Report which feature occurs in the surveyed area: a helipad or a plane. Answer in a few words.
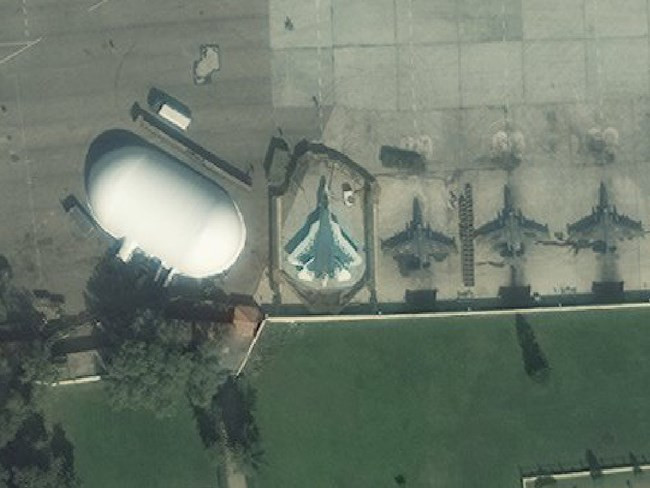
plane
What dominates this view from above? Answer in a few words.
paved ground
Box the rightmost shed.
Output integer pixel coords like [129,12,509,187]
[234,305,262,339]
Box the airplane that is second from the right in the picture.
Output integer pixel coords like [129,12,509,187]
[477,188,553,270]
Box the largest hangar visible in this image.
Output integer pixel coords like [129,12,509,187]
[86,143,249,291]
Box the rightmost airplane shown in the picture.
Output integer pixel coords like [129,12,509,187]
[569,185,646,268]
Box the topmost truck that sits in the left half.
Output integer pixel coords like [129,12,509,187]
[147,98,192,129]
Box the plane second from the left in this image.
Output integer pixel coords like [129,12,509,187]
[385,201,462,282]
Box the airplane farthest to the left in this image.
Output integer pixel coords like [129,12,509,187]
[289,182,362,287]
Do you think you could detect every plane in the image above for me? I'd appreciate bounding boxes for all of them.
[289,182,362,287]
[569,185,646,268]
[477,188,553,270]
[385,201,462,282]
